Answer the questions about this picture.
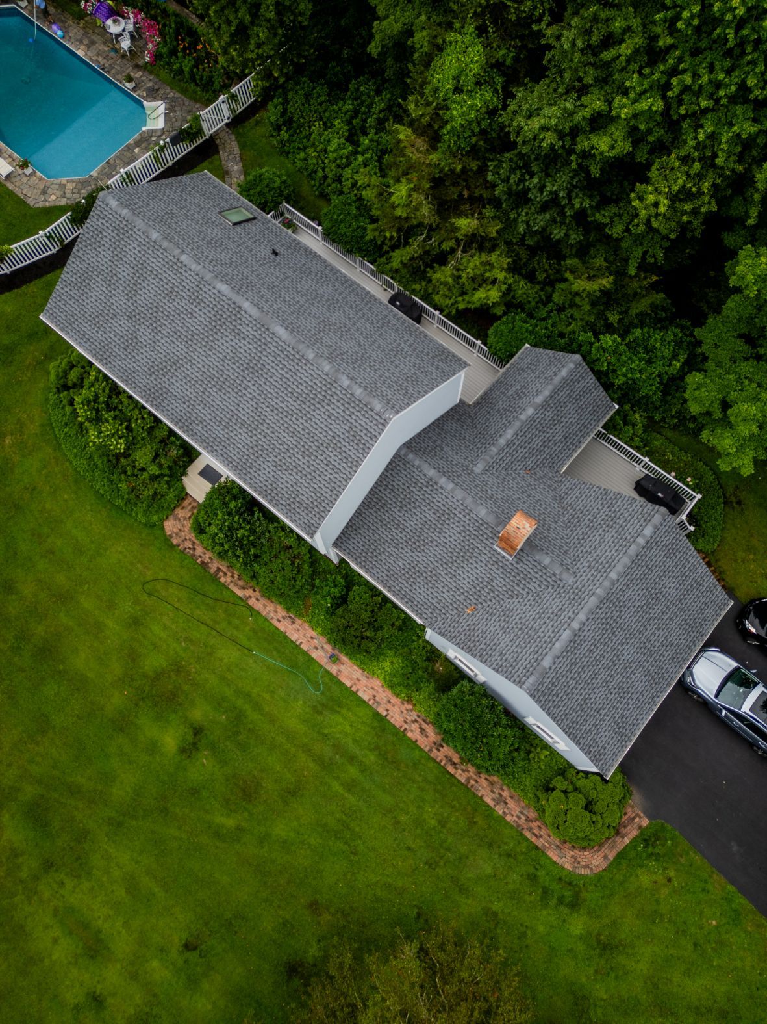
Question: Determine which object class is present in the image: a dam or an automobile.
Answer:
automobile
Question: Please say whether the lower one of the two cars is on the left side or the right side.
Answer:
right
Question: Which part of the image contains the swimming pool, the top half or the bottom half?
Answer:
top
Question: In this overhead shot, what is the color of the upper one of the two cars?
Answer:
black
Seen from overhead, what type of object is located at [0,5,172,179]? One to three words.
swimming pool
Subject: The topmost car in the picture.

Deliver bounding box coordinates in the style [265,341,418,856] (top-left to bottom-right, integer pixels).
[736,587,767,650]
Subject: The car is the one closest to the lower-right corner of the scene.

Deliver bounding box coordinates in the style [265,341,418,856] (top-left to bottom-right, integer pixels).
[683,643,767,761]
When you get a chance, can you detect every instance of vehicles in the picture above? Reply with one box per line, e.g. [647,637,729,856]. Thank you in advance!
[683,643,767,761]
[736,587,767,650]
